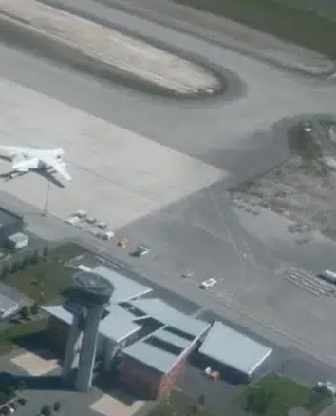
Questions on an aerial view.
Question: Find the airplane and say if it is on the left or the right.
left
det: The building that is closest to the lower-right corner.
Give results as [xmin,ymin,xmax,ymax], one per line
[198,321,274,384]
